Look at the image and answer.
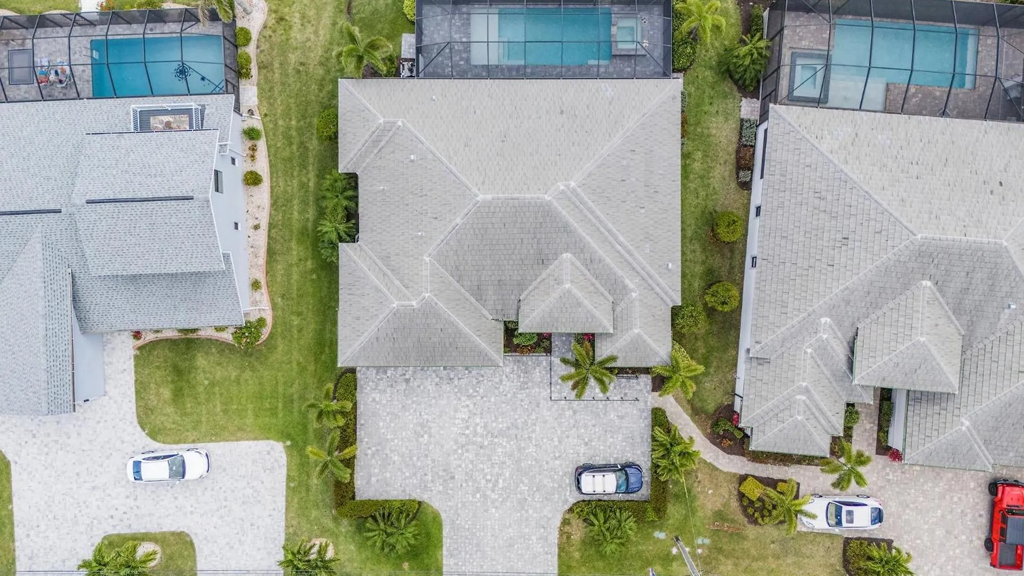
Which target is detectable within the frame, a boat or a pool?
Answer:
pool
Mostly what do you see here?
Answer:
buildings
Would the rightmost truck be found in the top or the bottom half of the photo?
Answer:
bottom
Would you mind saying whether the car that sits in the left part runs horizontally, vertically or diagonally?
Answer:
horizontally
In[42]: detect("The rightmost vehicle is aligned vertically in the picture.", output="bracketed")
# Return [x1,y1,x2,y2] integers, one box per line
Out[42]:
[982,475,1024,569]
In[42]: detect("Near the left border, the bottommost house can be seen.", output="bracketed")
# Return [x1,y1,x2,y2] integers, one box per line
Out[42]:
[0,94,270,416]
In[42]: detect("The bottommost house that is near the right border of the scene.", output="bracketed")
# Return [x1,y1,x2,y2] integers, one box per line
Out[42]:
[731,104,1024,473]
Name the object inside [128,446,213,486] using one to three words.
car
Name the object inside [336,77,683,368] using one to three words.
house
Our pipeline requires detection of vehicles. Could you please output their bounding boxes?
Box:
[796,491,881,533]
[575,459,644,500]
[982,475,1024,569]
[128,446,213,486]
